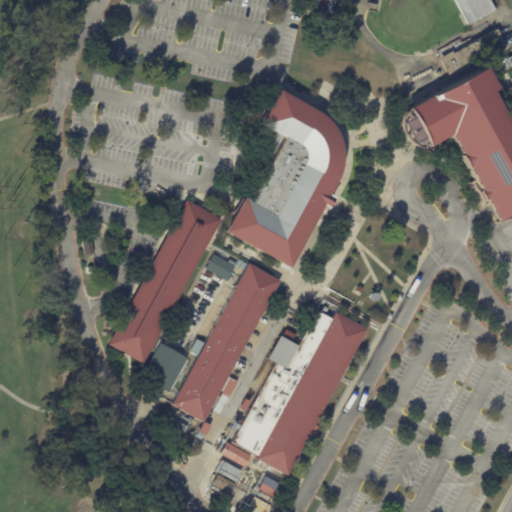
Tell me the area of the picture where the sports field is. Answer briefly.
top right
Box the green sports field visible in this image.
[366,0,468,56]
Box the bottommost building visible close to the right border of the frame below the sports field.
[398,68,512,219]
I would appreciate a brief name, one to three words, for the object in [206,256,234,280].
shed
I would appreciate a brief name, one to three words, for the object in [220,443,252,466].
building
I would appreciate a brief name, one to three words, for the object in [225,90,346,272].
building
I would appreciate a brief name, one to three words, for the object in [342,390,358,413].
vehicle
